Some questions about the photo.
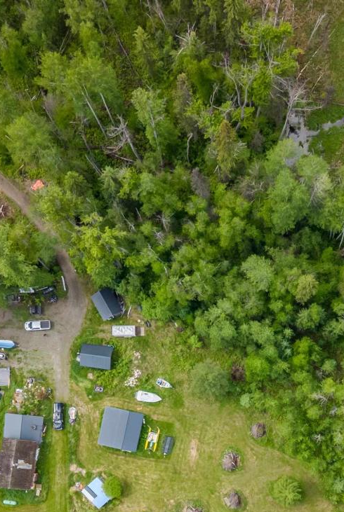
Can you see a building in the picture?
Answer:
Yes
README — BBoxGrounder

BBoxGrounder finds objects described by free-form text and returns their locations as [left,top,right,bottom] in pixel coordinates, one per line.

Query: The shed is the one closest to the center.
[91,288,124,321]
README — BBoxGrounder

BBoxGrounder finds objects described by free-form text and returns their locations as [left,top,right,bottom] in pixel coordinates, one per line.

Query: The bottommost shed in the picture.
[82,477,113,507]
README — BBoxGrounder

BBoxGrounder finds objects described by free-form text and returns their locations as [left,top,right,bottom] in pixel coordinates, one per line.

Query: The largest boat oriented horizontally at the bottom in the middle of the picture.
[134,389,160,402]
